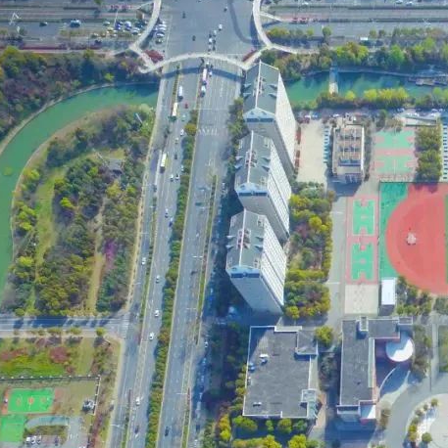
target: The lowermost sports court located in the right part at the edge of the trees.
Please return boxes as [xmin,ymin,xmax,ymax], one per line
[345,284,378,315]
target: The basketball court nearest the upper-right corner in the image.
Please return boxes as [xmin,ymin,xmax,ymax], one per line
[373,126,416,152]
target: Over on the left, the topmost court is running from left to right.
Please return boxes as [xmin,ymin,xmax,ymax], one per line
[3,388,59,413]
